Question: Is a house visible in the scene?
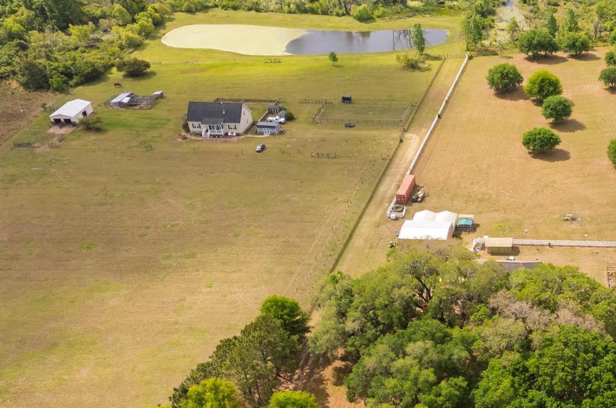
Yes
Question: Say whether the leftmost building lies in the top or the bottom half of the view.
top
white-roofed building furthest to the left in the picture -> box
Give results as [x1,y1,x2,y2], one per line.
[49,99,102,127]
